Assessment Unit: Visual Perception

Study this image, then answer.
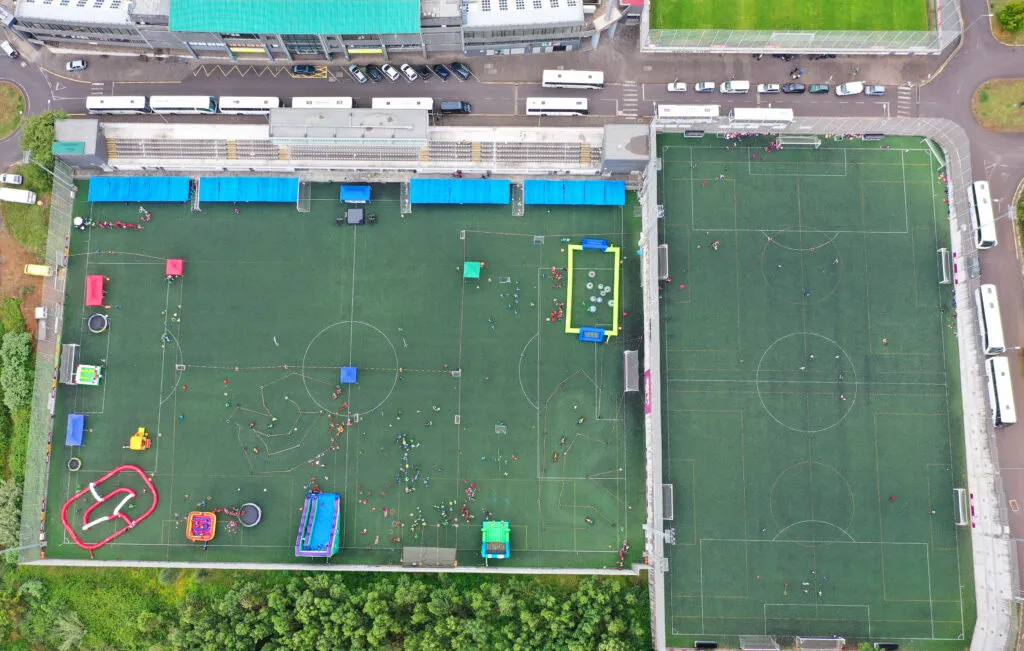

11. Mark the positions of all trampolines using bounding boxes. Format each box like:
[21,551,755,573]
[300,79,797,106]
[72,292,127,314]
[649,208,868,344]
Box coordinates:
[88,314,107,333]
[238,503,263,527]
[68,458,81,470]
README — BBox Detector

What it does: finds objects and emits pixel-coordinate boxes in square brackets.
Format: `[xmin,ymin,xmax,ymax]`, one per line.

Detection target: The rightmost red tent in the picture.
[165,259,188,278]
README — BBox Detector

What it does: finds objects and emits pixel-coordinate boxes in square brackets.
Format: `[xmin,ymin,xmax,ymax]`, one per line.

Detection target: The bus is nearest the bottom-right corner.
[981,355,1020,427]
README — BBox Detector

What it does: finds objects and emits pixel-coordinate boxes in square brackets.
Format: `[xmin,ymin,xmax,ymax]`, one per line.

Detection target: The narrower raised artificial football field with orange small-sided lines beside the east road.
[654,134,978,651]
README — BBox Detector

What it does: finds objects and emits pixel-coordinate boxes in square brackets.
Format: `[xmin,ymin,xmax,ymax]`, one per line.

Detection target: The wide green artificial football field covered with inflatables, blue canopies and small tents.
[38,179,644,569]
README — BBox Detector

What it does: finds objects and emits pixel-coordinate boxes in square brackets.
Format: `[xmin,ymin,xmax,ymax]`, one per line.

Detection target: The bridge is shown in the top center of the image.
[566,0,630,47]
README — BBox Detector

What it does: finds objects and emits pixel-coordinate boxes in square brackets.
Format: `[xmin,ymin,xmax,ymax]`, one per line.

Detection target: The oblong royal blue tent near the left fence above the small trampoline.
[65,413,87,446]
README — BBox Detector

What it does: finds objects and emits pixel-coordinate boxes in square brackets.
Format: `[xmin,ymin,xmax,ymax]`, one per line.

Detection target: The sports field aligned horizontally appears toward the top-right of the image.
[646,0,939,45]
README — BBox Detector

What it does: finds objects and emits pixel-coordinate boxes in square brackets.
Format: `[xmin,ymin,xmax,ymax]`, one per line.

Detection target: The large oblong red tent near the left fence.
[84,275,110,308]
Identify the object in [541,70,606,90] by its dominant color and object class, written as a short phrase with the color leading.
white bus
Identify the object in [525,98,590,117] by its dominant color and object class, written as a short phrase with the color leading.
white vehicle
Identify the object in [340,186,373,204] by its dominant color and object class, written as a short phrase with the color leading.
blue tent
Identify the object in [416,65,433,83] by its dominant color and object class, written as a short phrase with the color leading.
black car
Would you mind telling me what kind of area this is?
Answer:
sports ground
